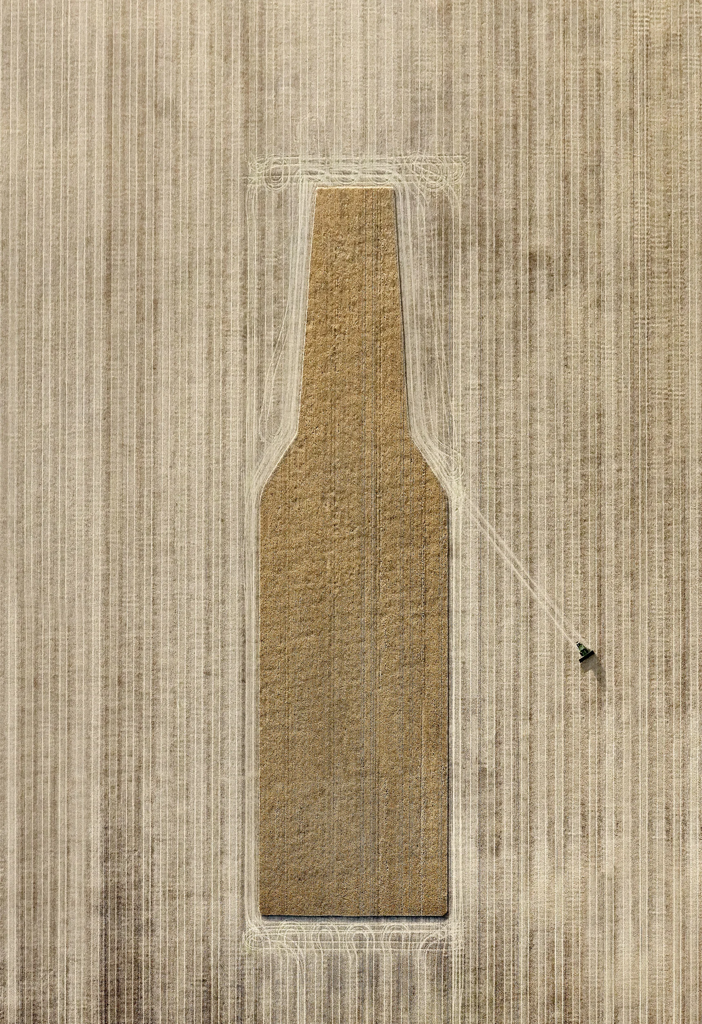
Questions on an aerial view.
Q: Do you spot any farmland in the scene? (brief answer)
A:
Yes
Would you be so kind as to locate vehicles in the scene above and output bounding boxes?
[575,642,595,663]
